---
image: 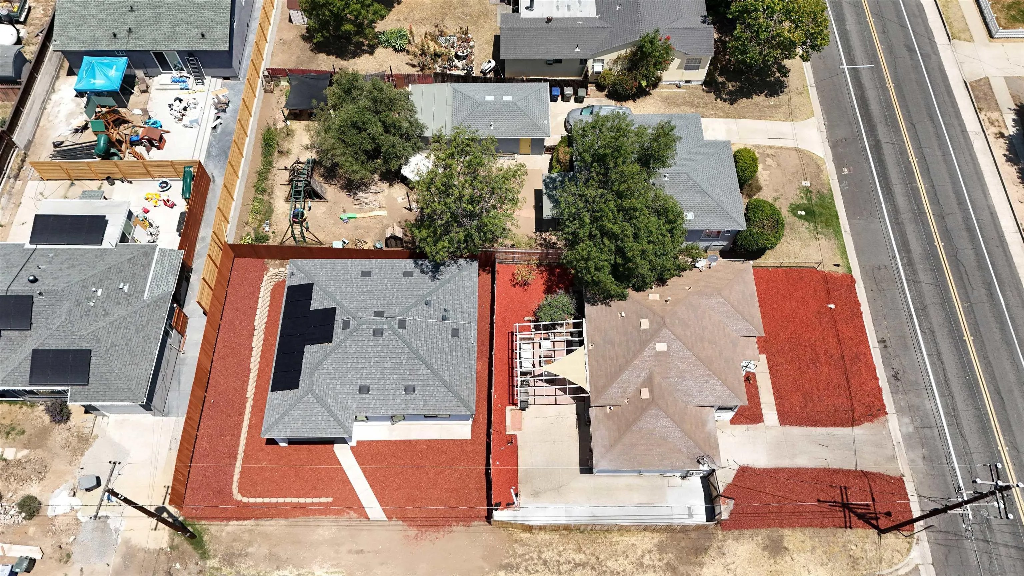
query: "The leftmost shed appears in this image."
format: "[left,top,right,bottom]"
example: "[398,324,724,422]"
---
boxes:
[0,45,37,93]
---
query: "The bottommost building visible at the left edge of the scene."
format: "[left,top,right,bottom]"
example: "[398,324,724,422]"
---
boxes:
[0,244,198,416]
